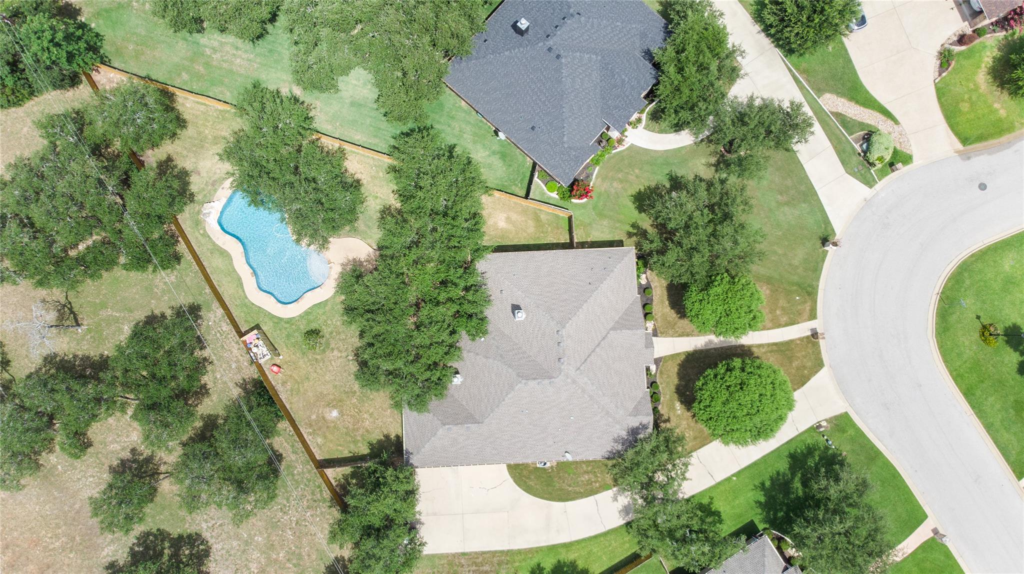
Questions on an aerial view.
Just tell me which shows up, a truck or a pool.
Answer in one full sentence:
Of the two, only a pool appears.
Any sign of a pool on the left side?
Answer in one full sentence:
Yes, a pool shows up on the left side.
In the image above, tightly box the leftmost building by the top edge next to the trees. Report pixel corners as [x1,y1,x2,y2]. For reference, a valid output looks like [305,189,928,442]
[442,0,670,188]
